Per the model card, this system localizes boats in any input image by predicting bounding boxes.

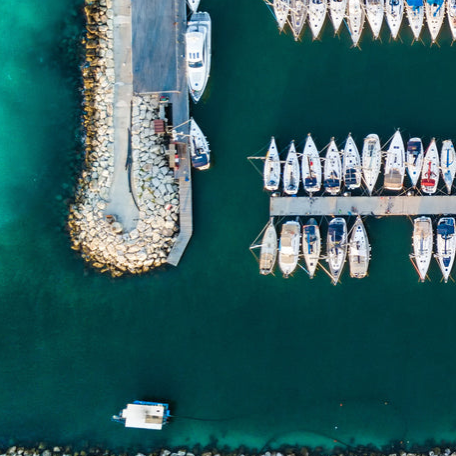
[433,213,456,289]
[384,122,406,191]
[333,131,364,193]
[246,213,278,276]
[276,0,308,46]
[288,128,327,197]
[422,0,444,49]
[360,0,385,39]
[315,136,343,195]
[420,133,441,195]
[314,214,349,287]
[320,0,347,38]
[341,213,371,281]
[296,0,327,45]
[335,0,365,46]
[404,0,425,45]
[289,214,323,283]
[277,214,301,283]
[443,0,456,43]
[249,131,283,197]
[262,0,290,32]
[407,213,436,284]
[439,136,456,194]
[167,117,208,171]
[272,139,302,197]
[184,9,211,102]
[380,0,404,38]
[353,130,383,195]
[403,137,424,194]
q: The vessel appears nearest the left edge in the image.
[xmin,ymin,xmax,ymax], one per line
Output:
[114,403,172,432]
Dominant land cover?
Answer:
water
